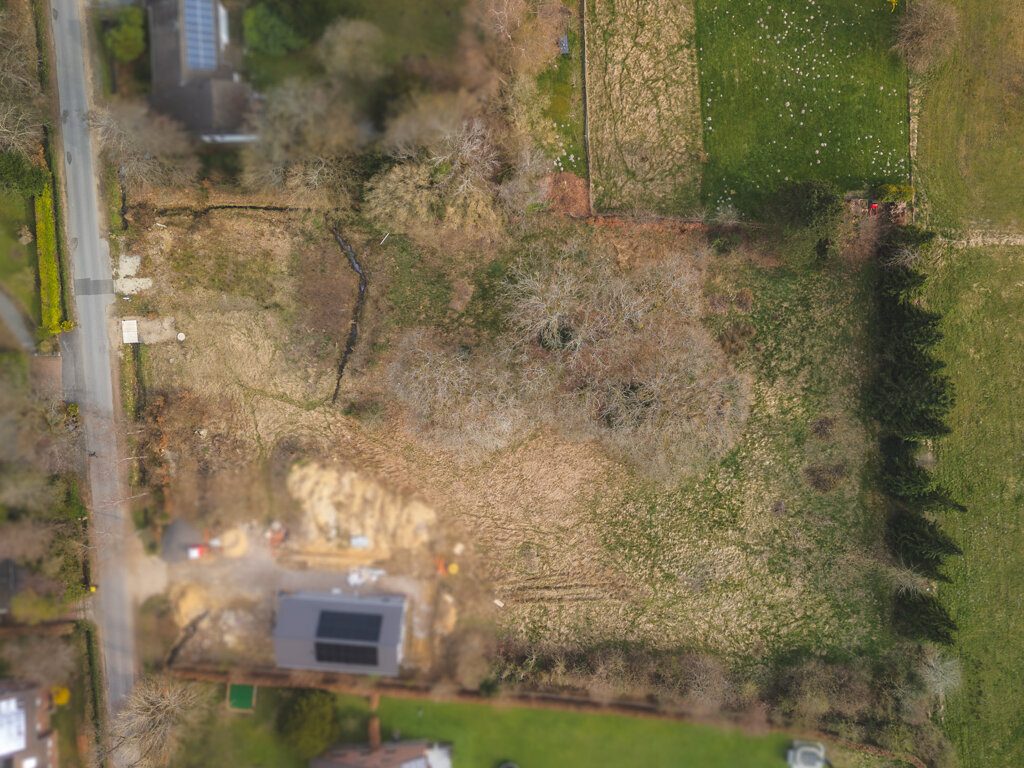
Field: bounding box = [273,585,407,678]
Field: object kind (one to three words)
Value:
house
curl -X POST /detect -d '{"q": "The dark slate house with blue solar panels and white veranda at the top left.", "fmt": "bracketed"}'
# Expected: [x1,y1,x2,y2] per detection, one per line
[153,0,265,151]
